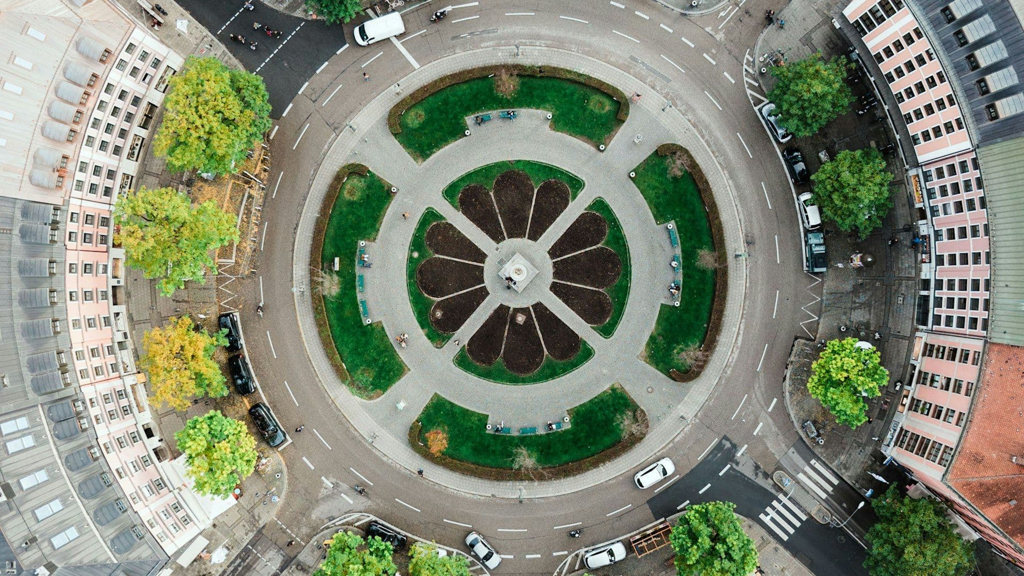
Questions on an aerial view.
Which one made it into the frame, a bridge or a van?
van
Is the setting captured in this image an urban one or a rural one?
urban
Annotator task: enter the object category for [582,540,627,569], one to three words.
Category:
car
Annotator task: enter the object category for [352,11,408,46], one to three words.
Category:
van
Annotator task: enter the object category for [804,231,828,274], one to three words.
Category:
truck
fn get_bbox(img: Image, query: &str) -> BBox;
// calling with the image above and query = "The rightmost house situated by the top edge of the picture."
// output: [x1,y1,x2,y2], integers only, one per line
[806,0,1024,171]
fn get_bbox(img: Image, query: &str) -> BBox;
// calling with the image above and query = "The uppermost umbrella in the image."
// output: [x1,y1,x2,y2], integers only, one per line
[177,18,193,35]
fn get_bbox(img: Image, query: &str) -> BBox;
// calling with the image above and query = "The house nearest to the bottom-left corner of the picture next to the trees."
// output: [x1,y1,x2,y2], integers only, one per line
[0,373,236,576]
